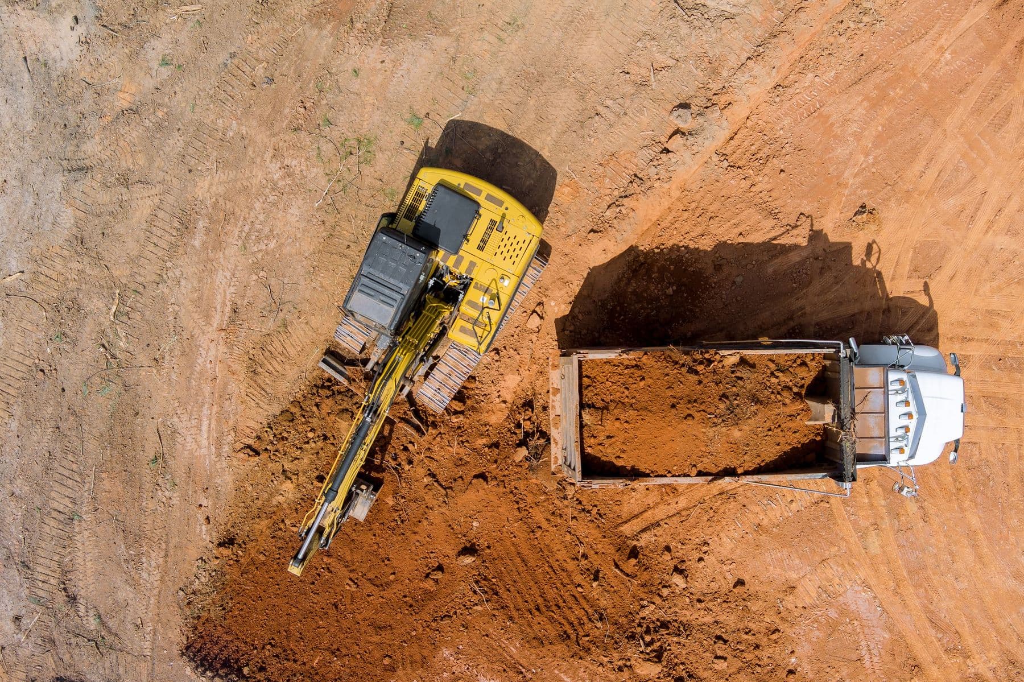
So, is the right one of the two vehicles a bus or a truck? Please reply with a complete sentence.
Specifically, the right one of the two vehicles is a truck.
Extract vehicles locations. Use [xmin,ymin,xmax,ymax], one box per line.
[285,168,547,578]
[548,329,967,506]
